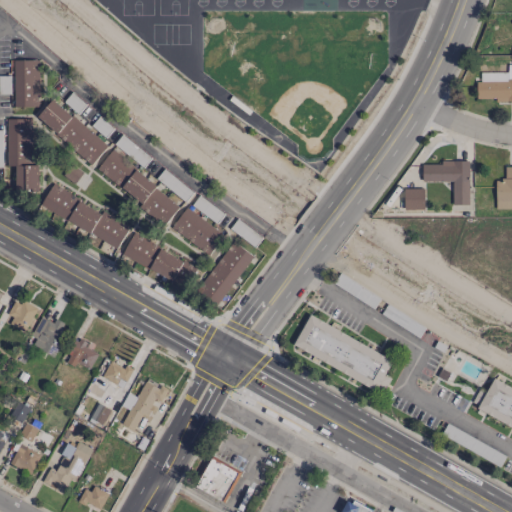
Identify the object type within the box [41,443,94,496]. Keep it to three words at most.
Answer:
house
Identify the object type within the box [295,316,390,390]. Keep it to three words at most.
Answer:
building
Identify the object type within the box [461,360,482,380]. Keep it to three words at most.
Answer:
swimming pool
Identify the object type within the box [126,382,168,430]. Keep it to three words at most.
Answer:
house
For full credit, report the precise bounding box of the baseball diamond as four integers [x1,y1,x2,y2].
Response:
[203,12,389,162]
